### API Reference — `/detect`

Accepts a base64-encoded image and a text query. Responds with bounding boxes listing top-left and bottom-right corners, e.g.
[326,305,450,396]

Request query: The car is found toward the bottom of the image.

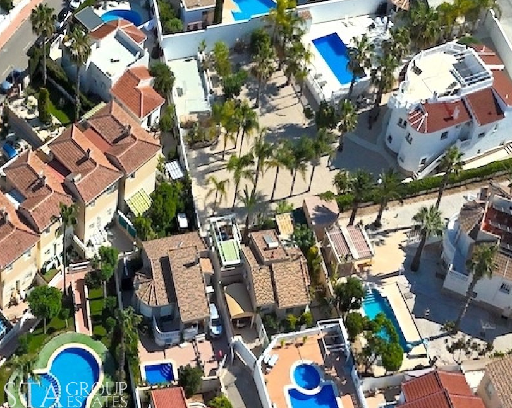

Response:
[207,303,224,333]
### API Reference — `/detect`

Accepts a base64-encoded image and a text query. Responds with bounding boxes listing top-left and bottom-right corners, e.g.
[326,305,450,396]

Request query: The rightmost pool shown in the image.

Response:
[359,284,411,355]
